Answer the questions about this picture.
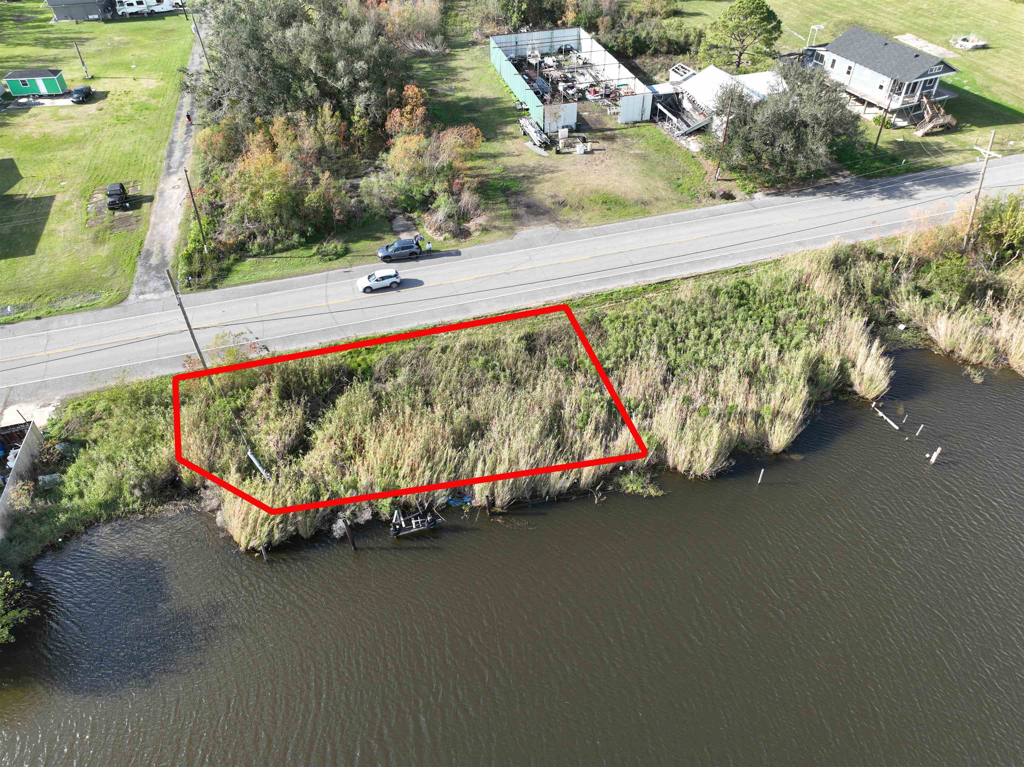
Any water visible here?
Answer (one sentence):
Yes, some water is visible.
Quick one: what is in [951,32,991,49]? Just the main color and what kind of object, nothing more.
white boat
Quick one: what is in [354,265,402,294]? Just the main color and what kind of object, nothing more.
white car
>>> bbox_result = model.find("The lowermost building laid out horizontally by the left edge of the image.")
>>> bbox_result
[0,68,72,100]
